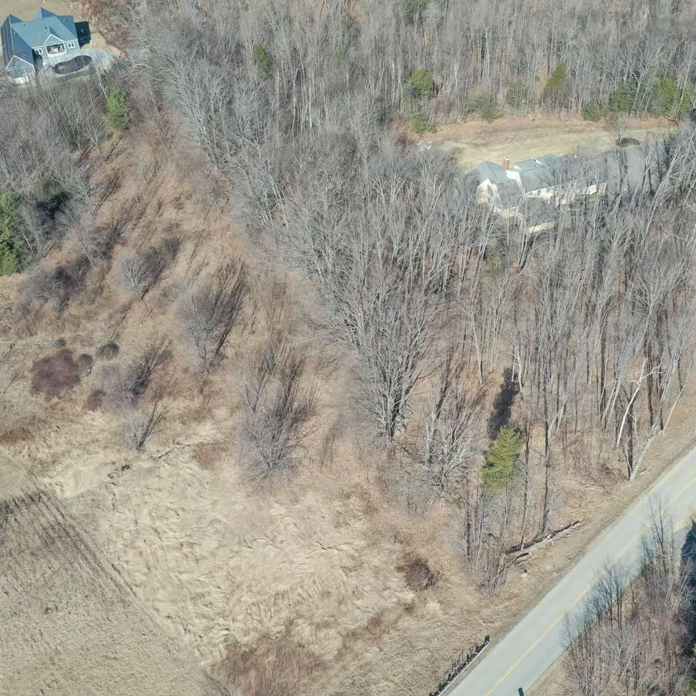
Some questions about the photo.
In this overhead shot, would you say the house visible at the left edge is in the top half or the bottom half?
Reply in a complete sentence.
The top half of the photo is where the house visible at the left edge is.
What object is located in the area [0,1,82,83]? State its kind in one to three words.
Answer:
house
